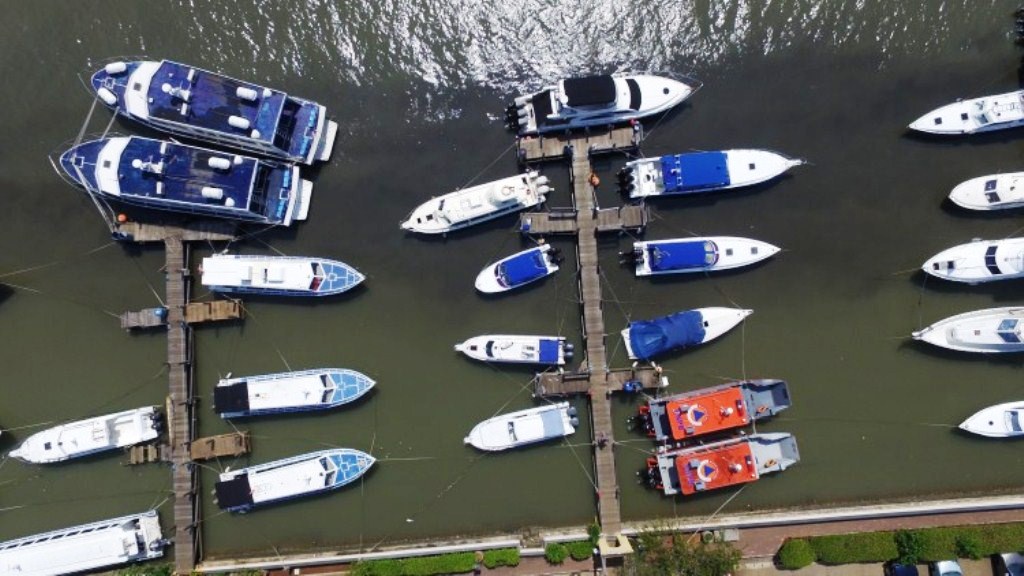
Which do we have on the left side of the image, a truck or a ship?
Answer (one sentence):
The one visible on the left side of the image is a ship.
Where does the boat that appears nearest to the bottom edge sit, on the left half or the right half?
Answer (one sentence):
The boat that appears nearest to the bottom edge appears in the left half of the scene.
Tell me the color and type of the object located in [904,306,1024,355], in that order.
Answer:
white boat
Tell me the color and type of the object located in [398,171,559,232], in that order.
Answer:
white boat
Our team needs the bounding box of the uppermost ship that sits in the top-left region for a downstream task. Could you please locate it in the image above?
[80,56,341,167]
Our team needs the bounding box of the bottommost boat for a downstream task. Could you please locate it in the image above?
[0,510,176,576]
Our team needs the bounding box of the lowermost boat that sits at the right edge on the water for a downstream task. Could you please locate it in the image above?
[957,398,1024,439]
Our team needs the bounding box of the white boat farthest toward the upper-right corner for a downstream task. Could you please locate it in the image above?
[907,90,1024,135]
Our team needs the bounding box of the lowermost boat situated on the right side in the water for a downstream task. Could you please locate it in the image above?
[637,434,801,499]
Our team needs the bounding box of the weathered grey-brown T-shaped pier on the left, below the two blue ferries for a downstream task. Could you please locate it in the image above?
[119,217,241,571]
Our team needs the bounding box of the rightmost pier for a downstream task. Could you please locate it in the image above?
[518,124,663,538]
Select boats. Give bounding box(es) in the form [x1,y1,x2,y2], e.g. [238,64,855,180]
[630,379,792,443]
[907,90,1024,135]
[452,334,573,367]
[921,236,1024,283]
[621,307,756,360]
[637,434,801,499]
[616,238,781,275]
[0,510,176,576]
[398,171,559,232]
[475,243,571,290]
[214,368,376,416]
[510,76,701,135]
[215,450,376,513]
[957,398,1024,439]
[904,306,1024,355]
[3,406,181,462]
[610,151,800,198]
[459,401,582,449]
[200,248,367,295]
[948,173,1024,212]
